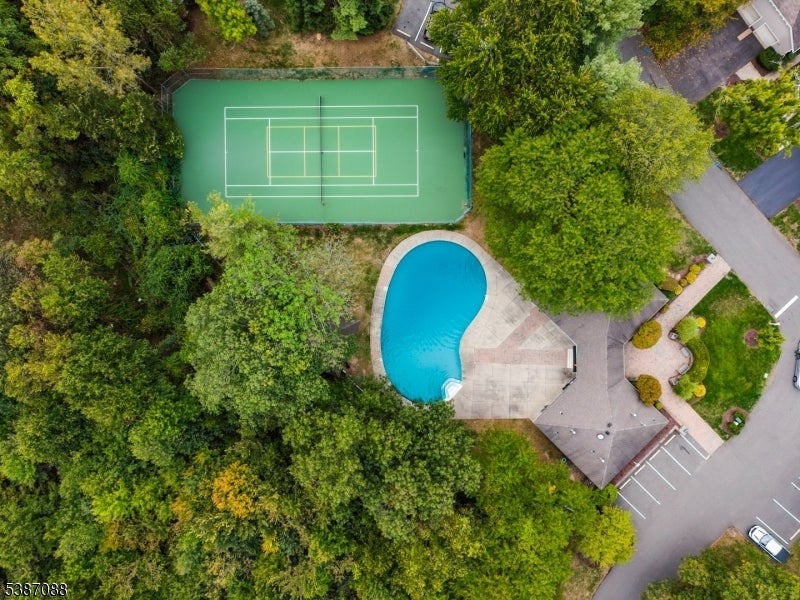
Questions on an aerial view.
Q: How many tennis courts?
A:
one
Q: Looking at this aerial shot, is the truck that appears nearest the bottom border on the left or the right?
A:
right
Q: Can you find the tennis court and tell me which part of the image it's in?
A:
top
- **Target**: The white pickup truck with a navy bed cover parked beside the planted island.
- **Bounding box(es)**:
[745,523,792,566]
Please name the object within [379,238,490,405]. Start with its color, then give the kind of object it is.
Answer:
blue swimming pool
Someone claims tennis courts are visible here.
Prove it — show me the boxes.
[173,79,466,223]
